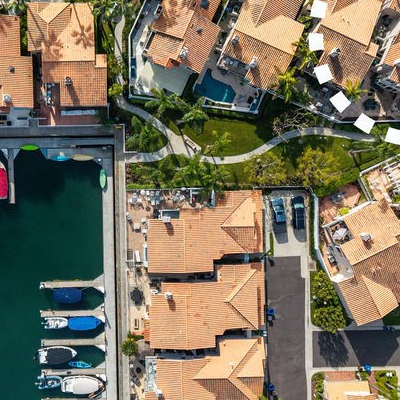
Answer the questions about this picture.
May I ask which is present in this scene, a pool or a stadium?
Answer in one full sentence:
There is a pool in the scene.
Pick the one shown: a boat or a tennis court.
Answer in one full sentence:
Of the two, only a boat appears.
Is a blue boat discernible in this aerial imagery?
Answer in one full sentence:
Yes, the picture does show a blue boat.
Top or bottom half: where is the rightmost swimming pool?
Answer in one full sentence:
You can find the rightmost swimming pool in the top half.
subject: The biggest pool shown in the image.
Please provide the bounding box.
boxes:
[193,67,238,104]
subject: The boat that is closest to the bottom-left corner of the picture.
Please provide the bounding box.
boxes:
[33,377,62,389]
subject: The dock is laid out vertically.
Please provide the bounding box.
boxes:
[41,150,113,400]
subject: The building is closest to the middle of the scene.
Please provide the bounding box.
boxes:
[143,190,263,272]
